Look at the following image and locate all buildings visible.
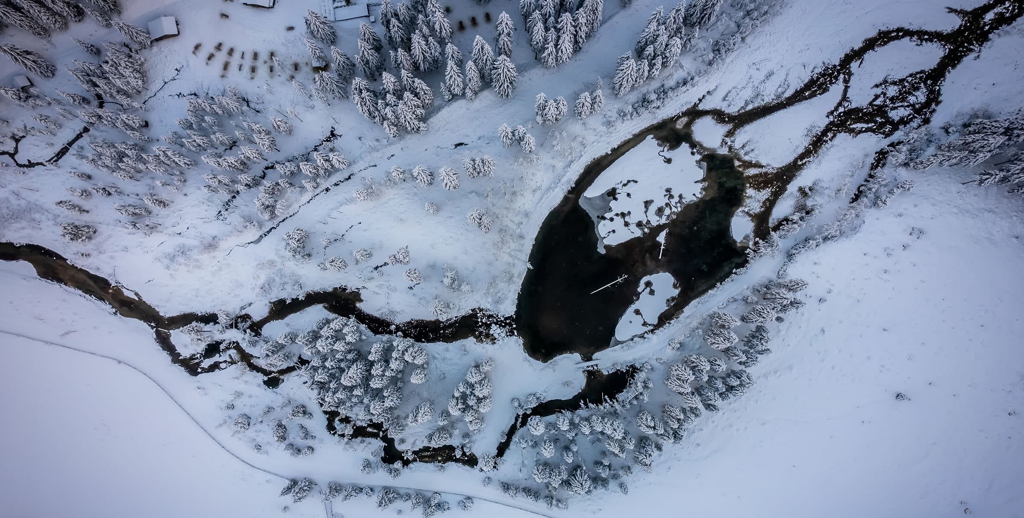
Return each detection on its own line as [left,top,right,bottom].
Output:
[334,3,368,22]
[246,0,272,10]
[312,57,328,70]
[151,16,182,41]
[13,74,38,92]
